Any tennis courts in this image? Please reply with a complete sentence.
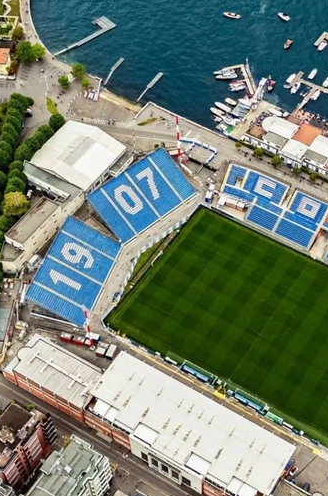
No, I can't see a single tennis court in this photo.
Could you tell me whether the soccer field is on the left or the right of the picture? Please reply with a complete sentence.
The soccer field appears in the right half of the scene.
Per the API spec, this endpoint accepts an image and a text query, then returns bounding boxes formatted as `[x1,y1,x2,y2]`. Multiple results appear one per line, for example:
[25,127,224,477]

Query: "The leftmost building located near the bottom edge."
[0,404,46,495]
